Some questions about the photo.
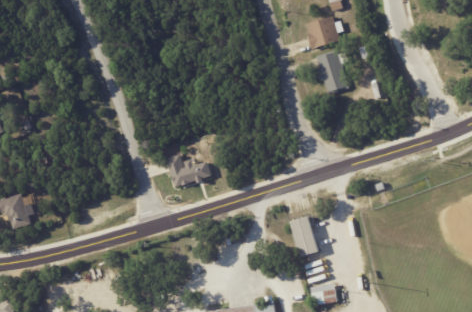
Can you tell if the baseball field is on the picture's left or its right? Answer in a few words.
right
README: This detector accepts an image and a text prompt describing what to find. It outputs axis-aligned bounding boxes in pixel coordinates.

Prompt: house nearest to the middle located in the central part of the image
[170,155,213,189]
